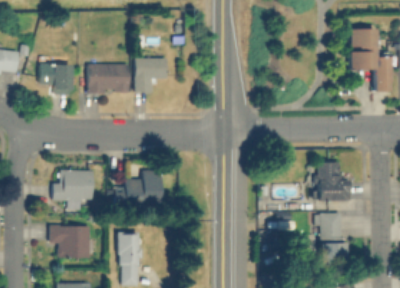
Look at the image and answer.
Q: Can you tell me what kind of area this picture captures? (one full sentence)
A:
This looks like a residential area.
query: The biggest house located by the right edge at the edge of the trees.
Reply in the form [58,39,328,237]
[353,28,394,92]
